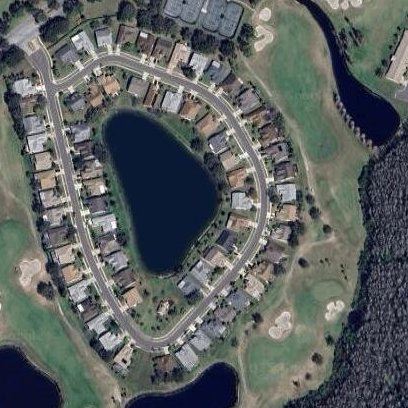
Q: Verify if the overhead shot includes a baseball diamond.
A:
No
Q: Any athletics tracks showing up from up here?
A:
No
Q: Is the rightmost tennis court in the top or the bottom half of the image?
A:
top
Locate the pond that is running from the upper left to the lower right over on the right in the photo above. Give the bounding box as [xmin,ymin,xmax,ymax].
[298,0,399,144]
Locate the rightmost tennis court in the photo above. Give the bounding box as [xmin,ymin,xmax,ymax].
[220,0,247,38]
